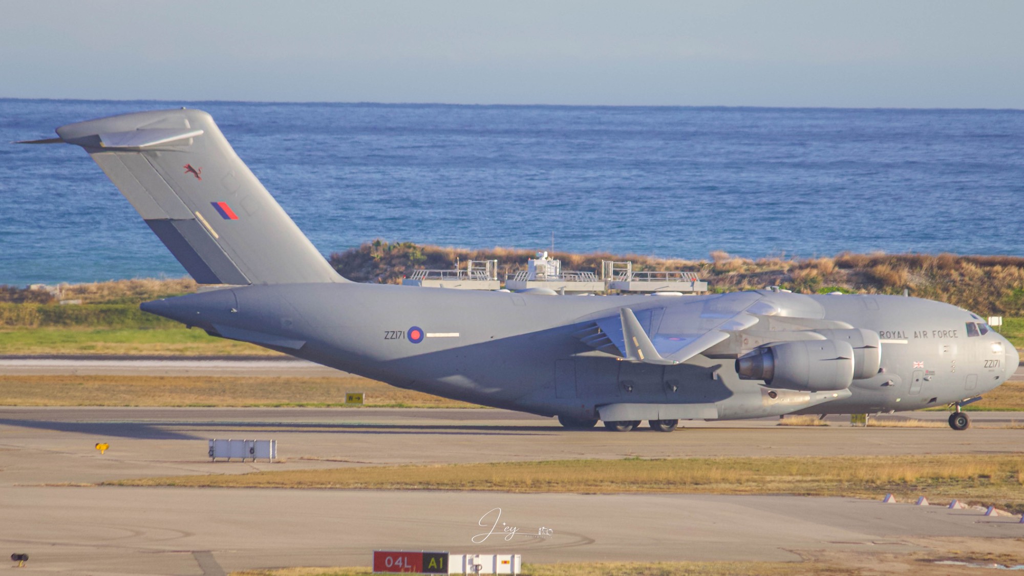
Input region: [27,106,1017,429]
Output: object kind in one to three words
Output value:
airplane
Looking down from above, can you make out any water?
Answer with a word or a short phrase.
Yes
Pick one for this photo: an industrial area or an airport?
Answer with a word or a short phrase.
airport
